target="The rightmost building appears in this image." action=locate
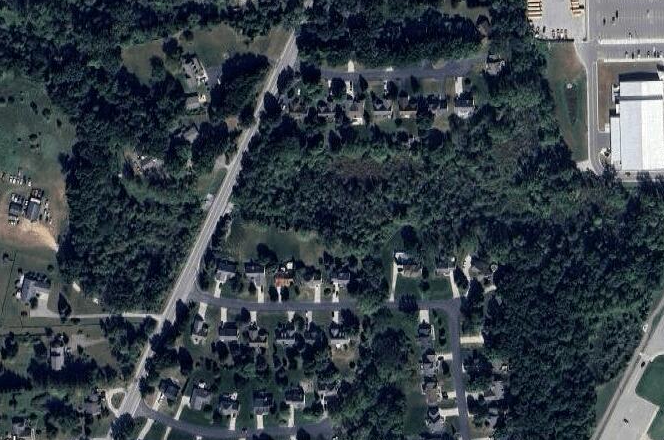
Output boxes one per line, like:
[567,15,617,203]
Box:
[610,66,664,171]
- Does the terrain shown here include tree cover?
Yes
